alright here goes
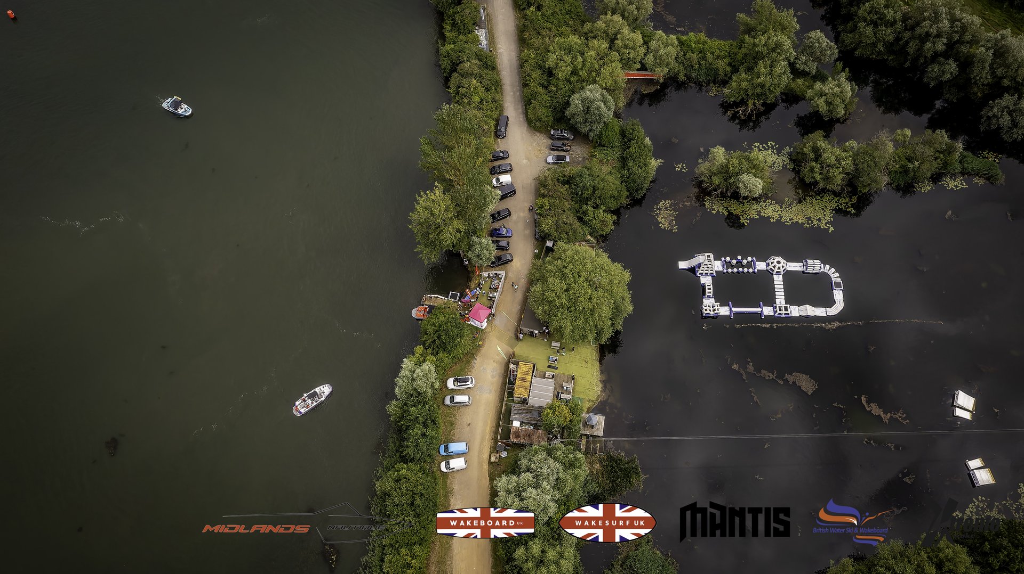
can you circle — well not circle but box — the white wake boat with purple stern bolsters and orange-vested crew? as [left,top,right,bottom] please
[290,383,332,419]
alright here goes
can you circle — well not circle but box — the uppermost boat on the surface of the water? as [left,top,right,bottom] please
[161,96,189,113]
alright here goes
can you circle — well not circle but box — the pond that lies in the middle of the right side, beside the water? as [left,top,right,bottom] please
[578,0,1024,574]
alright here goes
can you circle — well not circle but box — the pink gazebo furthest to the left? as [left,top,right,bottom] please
[469,303,494,331]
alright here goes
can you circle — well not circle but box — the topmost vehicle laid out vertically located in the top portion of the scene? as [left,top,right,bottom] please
[496,114,508,136]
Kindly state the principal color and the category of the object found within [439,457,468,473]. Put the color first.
white vehicle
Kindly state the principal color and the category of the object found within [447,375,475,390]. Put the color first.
white car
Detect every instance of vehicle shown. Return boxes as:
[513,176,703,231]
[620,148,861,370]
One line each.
[495,181,521,201]
[490,161,514,176]
[447,375,475,390]
[490,172,513,187]
[490,225,513,239]
[492,240,512,251]
[490,206,513,224]
[491,151,511,162]
[443,393,472,407]
[439,457,468,473]
[440,441,468,456]
[548,139,572,152]
[489,252,515,269]
[547,153,570,164]
[496,114,508,136]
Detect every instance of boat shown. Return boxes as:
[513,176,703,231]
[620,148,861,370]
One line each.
[411,305,434,319]
[161,96,189,113]
[290,383,332,419]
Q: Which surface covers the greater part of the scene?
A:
water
